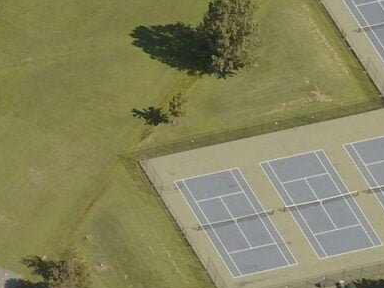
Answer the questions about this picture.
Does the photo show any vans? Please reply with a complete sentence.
No, no van is visible in the scene.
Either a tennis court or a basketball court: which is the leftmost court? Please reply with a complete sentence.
It turns out the leftmost court is a tennis court.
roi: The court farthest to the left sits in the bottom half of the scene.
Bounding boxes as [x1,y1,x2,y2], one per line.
[175,167,298,277]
